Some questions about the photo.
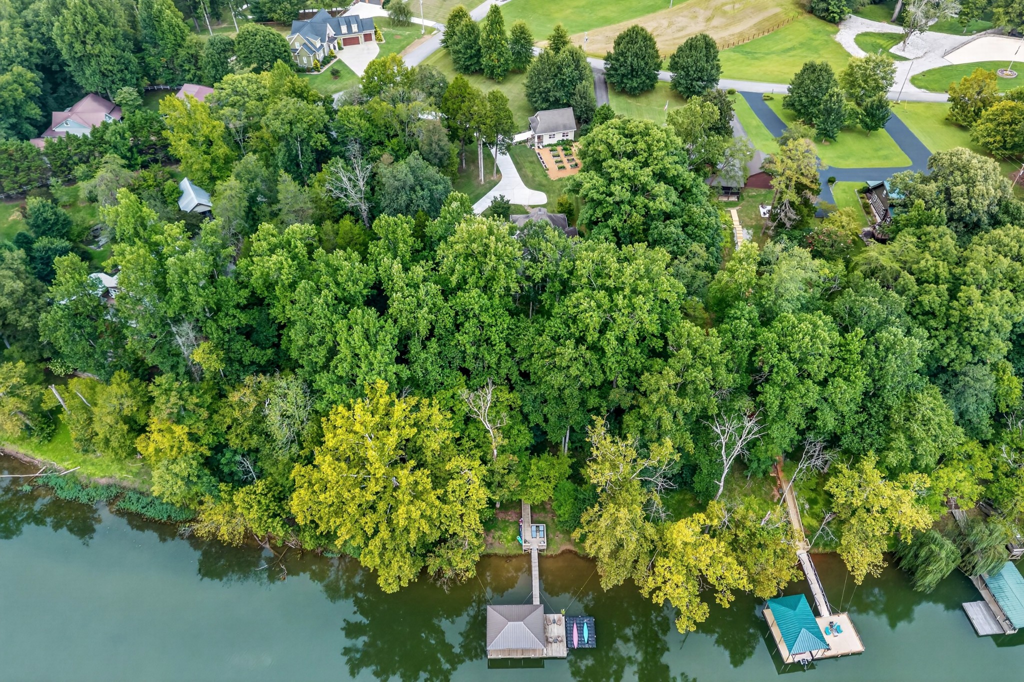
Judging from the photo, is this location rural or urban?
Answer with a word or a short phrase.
rural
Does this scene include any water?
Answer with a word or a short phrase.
Yes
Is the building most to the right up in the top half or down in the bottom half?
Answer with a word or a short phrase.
bottom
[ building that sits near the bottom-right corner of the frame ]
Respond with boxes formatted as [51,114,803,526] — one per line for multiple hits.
[971,554,1024,638]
